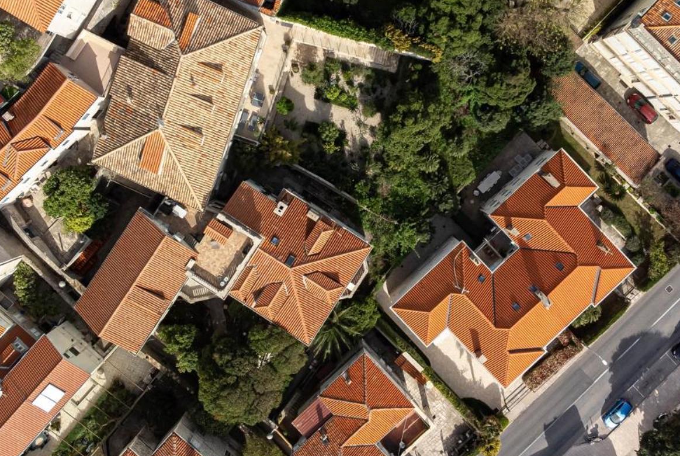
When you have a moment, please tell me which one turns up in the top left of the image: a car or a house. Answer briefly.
house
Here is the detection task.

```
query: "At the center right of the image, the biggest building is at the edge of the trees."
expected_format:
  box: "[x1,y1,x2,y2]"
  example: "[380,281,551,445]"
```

[389,147,637,388]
